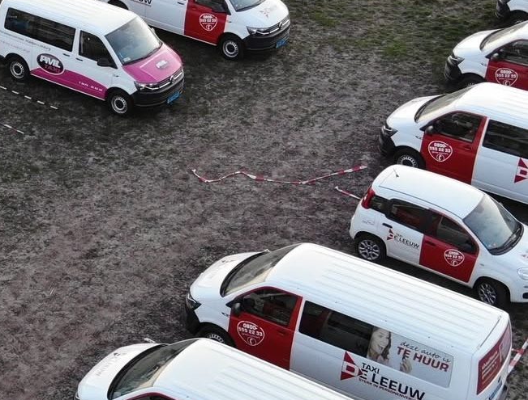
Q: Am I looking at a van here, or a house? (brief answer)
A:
van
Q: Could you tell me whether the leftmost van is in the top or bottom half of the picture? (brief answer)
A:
top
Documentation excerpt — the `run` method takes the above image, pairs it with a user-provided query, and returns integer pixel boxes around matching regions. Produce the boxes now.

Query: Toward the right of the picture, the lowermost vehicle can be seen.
[183,242,514,400]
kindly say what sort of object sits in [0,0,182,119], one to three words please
van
